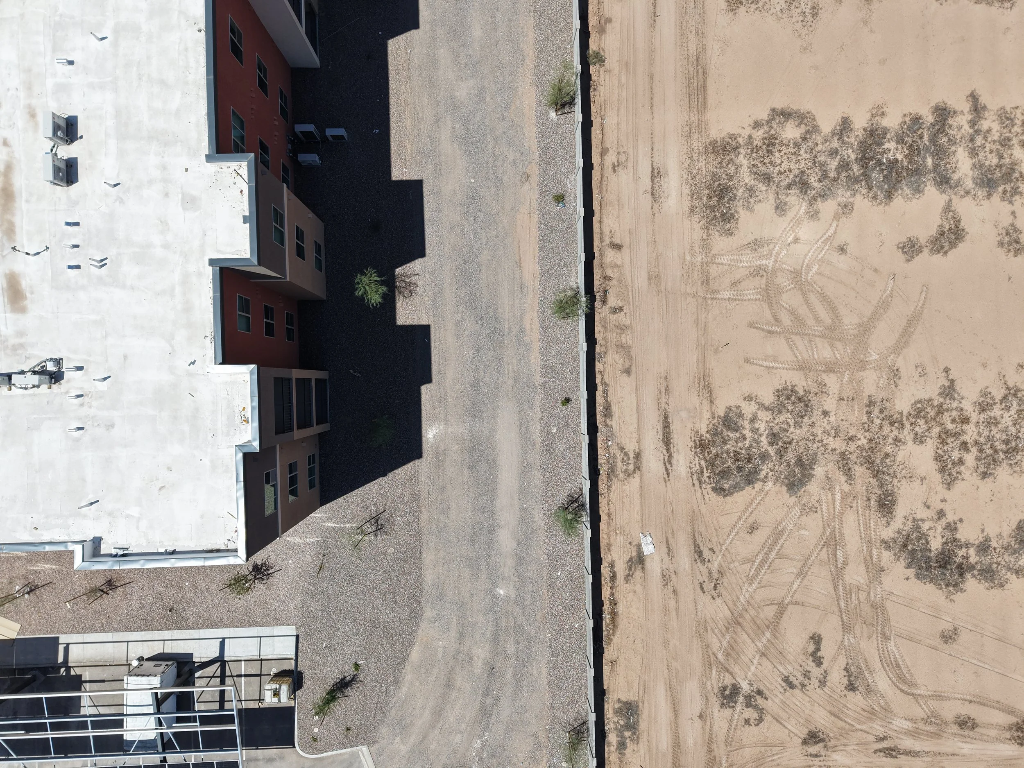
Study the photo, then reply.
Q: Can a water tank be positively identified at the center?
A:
No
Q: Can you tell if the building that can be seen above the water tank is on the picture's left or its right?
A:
left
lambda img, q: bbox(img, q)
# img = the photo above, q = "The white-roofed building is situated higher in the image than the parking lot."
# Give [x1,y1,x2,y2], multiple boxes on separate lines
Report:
[0,0,330,571]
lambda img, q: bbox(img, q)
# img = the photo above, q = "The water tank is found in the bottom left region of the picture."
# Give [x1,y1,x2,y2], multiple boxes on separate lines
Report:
[264,676,295,704]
